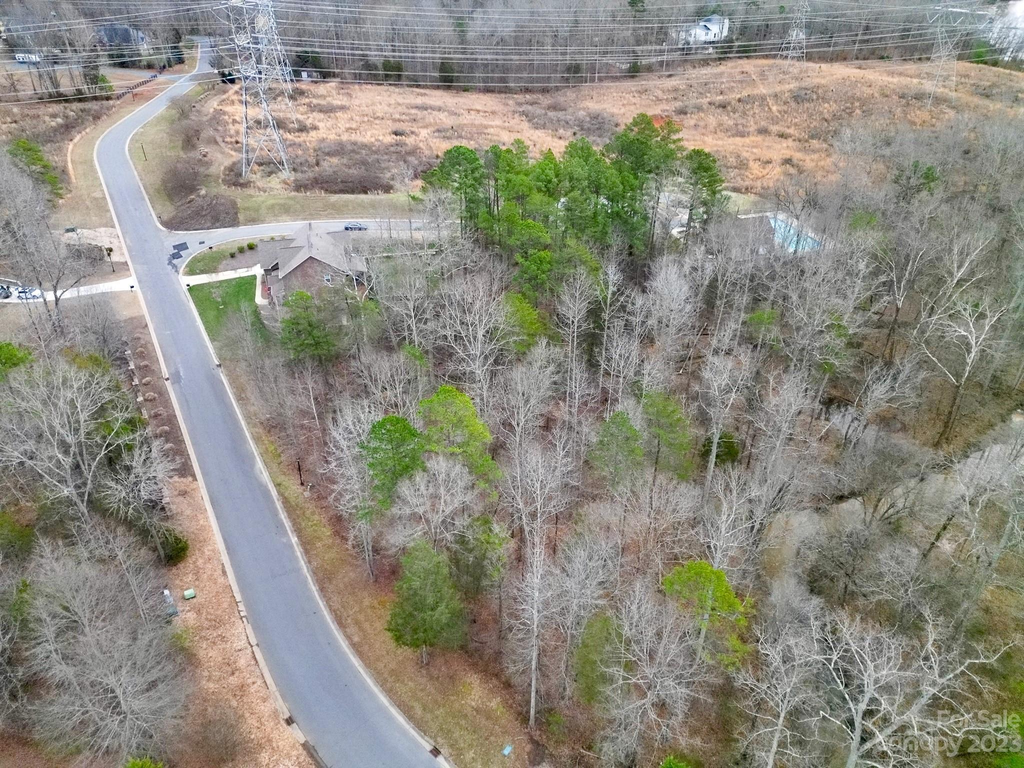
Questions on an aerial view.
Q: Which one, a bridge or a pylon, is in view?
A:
pylon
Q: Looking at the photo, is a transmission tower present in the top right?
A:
Yes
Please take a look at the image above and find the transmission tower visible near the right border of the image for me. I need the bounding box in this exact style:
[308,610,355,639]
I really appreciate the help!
[924,0,983,98]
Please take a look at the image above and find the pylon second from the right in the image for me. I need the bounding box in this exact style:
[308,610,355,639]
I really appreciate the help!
[782,0,815,72]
